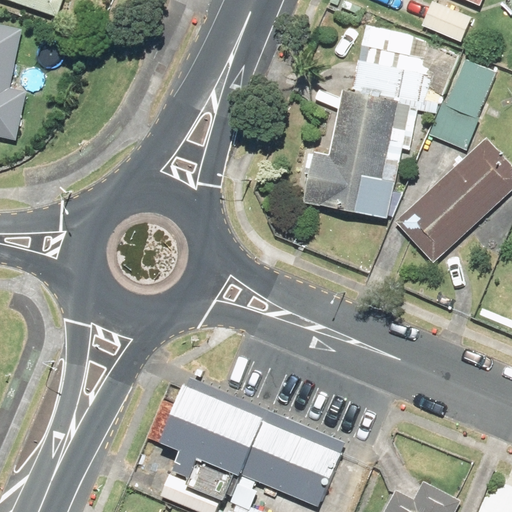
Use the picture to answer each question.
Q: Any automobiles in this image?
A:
Yes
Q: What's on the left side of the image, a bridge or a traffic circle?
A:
traffic circle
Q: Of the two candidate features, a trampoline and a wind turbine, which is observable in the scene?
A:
trampoline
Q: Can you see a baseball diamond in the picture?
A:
No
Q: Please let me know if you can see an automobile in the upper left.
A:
No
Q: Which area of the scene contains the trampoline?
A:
top left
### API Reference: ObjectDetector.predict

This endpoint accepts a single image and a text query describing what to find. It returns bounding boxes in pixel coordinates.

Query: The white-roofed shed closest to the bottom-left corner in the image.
[161,474,218,512]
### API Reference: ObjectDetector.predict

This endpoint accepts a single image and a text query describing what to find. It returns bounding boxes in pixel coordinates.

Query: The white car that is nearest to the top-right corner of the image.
[335,28,358,58]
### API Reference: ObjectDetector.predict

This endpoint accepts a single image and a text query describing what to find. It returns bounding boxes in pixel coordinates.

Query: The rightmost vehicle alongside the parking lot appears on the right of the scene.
[413,394,448,417]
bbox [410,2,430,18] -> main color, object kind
red car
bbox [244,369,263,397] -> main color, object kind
white car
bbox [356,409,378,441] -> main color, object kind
white car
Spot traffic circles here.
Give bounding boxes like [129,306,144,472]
[106,212,188,294]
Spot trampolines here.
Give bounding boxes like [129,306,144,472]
[34,43,62,70]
